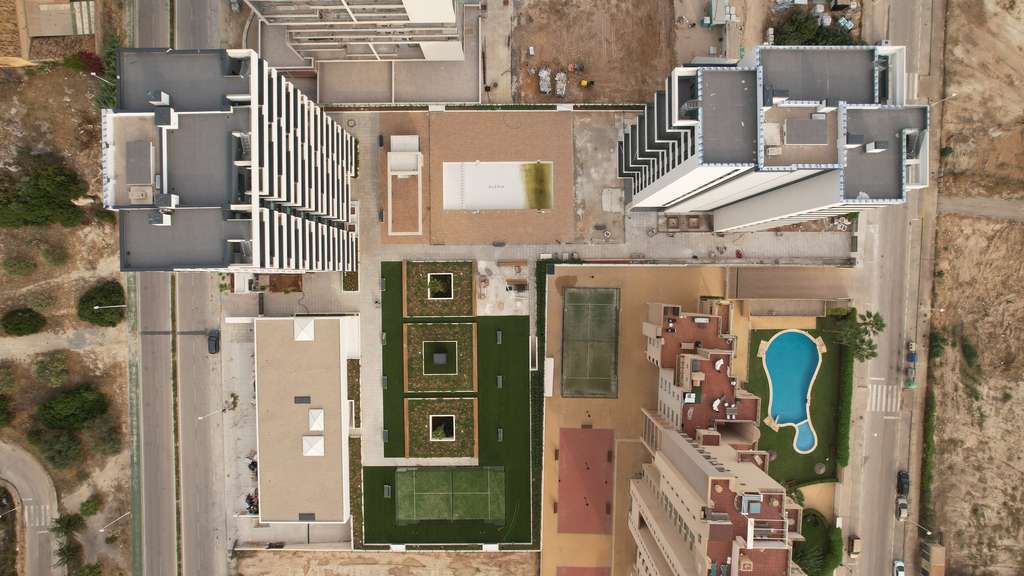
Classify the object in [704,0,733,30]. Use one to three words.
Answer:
shed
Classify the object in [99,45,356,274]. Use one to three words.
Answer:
building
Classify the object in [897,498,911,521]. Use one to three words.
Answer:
car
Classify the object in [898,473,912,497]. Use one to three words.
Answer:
car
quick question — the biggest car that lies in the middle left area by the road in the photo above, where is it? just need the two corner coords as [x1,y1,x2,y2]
[205,330,218,353]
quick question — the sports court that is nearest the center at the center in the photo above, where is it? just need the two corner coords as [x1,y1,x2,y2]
[561,288,624,402]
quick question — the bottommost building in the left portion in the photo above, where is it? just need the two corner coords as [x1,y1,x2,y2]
[254,315,362,524]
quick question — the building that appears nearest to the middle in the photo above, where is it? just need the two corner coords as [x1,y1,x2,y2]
[387,136,426,236]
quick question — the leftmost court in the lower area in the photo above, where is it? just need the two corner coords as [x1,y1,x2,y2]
[394,469,505,526]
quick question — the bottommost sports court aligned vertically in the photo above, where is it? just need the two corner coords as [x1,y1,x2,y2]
[558,429,616,576]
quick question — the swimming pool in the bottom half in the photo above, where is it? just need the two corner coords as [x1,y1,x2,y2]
[764,330,821,454]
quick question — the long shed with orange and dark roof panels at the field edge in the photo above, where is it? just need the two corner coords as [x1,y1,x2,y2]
[913,539,946,576]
